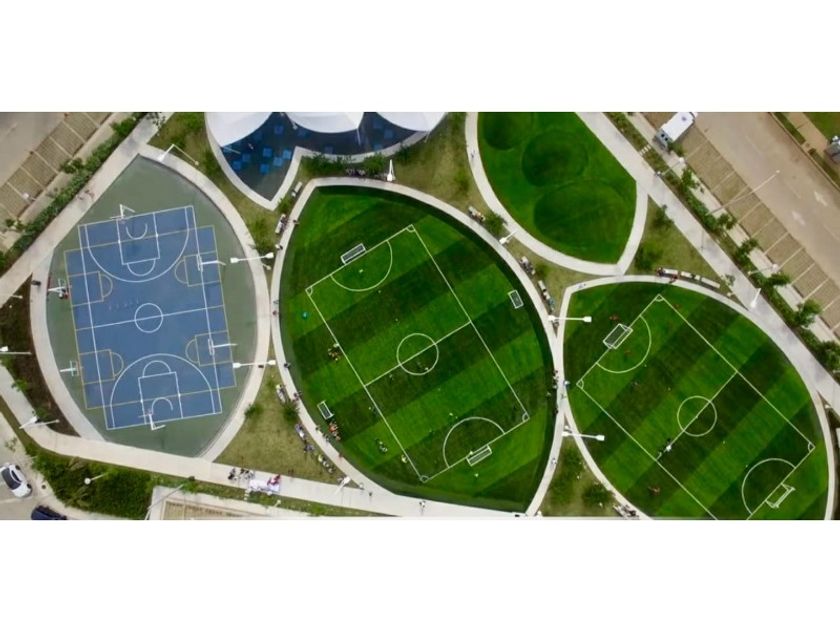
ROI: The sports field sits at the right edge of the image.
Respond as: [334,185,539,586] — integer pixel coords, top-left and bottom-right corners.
[564,282,829,561]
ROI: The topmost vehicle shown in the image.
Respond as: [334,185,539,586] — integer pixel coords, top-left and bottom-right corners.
[653,105,699,148]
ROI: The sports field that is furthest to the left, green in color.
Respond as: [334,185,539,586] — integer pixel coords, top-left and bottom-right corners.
[280,186,557,513]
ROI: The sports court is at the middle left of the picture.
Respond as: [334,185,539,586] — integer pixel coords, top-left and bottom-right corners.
[46,155,257,456]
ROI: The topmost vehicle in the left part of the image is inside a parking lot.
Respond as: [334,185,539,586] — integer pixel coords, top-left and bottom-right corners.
[0,464,29,497]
